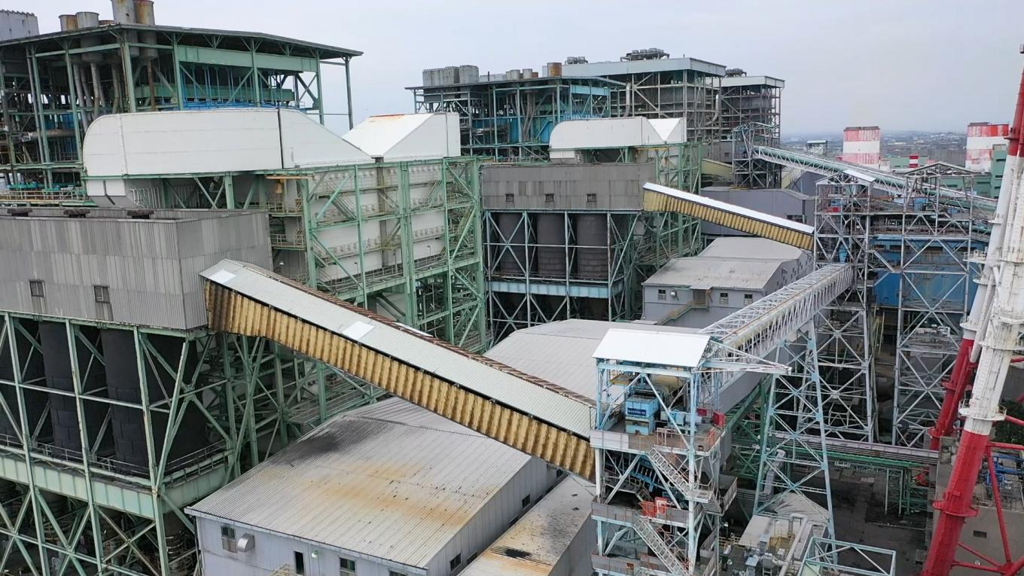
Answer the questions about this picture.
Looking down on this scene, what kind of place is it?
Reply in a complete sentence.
The picture captures an industrial area.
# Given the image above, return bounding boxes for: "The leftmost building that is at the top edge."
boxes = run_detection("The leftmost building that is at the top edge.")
[0,0,375,207]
